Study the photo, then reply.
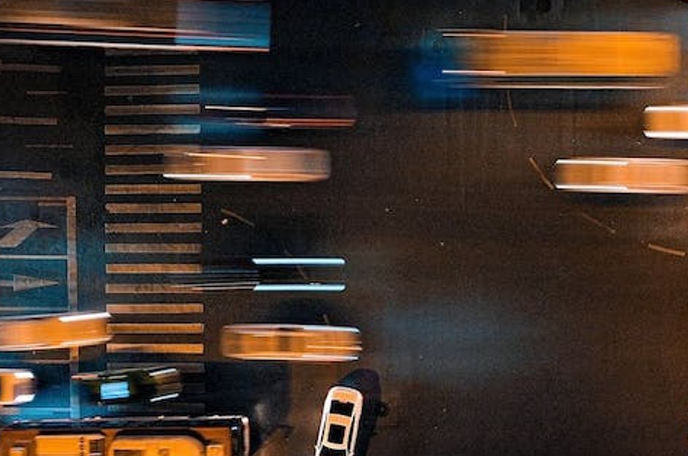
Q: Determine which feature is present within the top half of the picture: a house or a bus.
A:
bus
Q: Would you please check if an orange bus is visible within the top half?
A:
Yes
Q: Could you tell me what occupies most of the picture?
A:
paved ground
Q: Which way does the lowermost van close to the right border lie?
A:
from left to right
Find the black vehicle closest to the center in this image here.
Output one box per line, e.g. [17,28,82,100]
[248,252,348,297]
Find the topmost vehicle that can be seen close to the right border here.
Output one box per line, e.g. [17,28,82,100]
[448,29,679,96]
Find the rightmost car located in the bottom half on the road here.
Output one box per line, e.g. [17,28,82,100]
[314,385,365,456]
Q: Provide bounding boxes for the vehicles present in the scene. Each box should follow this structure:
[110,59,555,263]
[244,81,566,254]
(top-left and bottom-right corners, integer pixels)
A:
[579,152,677,197]
[0,368,36,405]
[206,142,294,185]
[2,412,252,456]
[243,321,342,366]
[84,363,179,406]
[314,385,365,456]
[448,29,679,96]
[6,310,96,353]
[248,252,348,297]
[11,0,280,62]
